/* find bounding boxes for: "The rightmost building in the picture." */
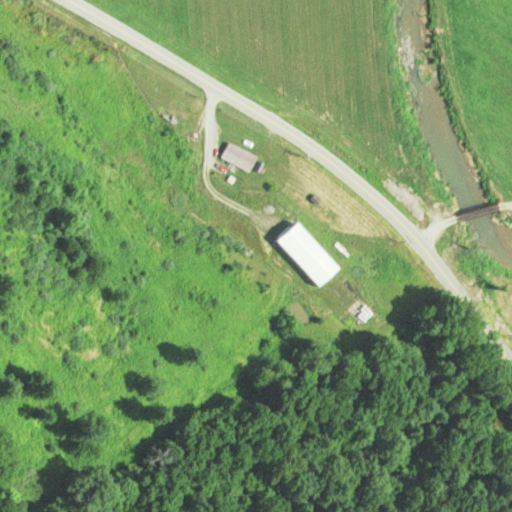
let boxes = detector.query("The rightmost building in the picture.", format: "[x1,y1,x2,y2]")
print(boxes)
[277,222,340,287]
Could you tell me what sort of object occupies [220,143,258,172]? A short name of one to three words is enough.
house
